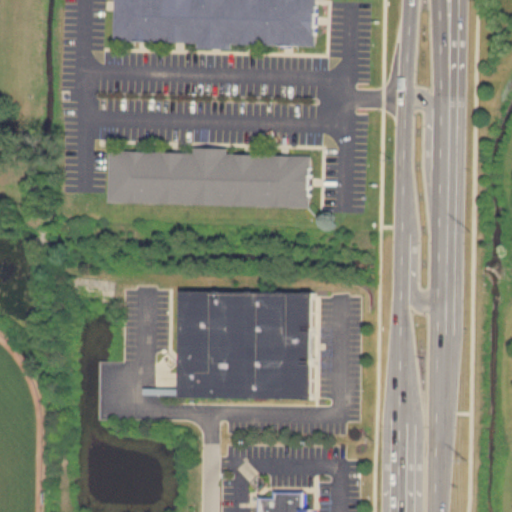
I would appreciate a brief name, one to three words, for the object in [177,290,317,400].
building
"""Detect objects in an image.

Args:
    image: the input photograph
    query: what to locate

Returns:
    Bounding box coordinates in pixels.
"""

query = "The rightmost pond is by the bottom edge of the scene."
[81,310,176,512]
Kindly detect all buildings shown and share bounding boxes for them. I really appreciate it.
[105,148,314,208]
[114,0,322,50]
[177,290,317,400]
[258,490,308,512]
